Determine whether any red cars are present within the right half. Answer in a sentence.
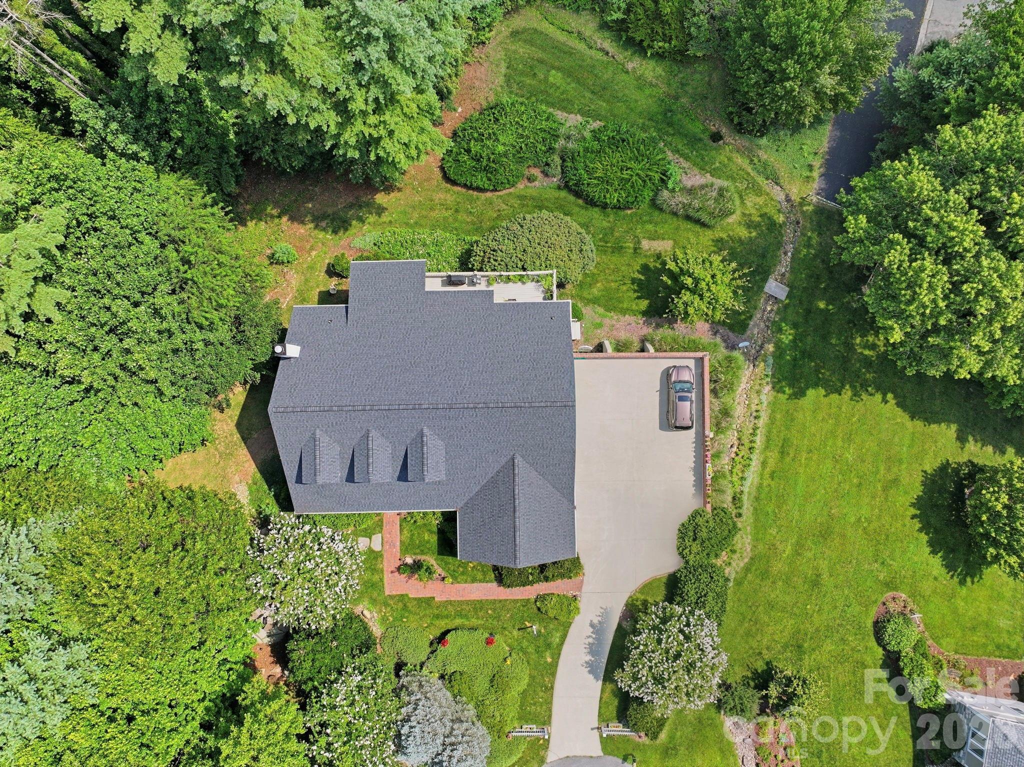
No, no red car appears within the right half.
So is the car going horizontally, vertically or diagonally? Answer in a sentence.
The car is laid out vertically.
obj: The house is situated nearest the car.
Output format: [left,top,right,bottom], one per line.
[269,258,579,568]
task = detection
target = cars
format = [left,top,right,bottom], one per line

[667,366,698,432]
